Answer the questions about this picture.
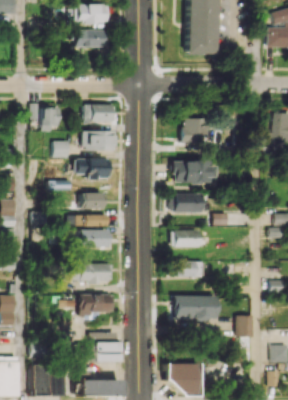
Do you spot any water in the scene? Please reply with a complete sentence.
No, water can't be seen anywhere here.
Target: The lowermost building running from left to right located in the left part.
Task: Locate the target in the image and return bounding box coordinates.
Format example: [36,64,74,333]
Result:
[84,379,126,396]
